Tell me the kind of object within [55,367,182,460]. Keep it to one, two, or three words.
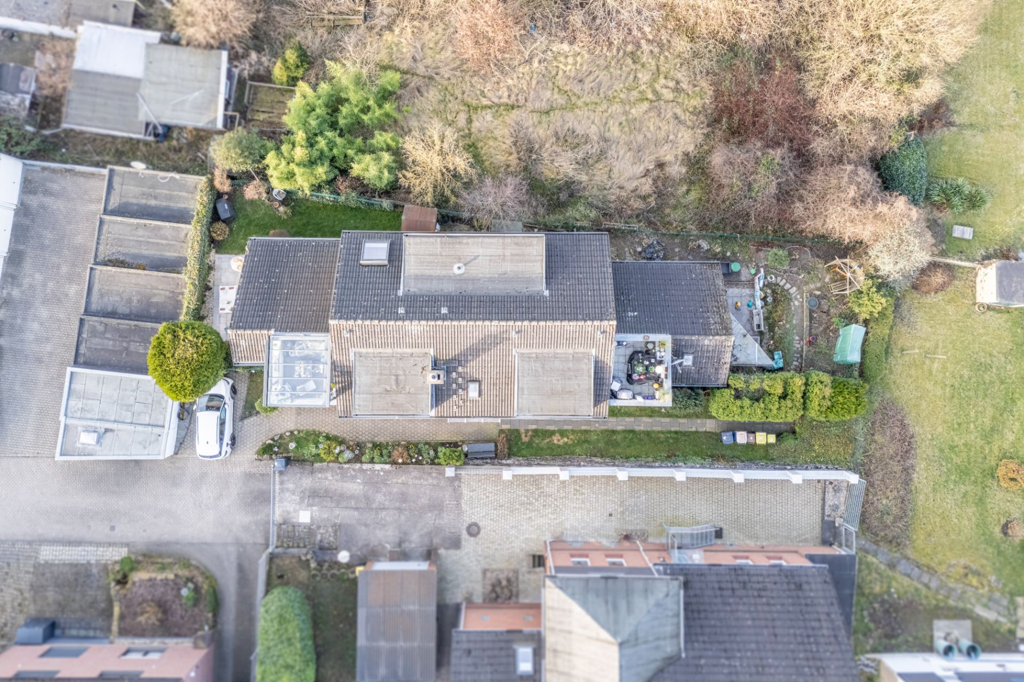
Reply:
building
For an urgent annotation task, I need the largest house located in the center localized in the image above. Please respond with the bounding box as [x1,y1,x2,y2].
[327,228,618,423]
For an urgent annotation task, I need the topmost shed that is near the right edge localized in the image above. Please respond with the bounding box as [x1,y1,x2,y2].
[953,260,1024,309]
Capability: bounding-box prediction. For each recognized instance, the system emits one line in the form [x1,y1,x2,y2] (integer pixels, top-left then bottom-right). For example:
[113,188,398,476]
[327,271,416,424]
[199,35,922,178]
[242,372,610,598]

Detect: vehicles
[190,376,240,457]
